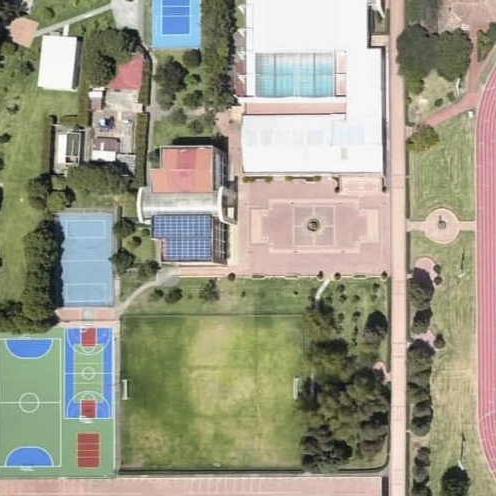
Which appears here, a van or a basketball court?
basketball court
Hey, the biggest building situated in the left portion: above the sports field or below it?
above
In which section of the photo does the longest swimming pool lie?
top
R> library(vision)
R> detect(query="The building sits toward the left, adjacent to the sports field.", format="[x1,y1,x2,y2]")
[133,146,240,265]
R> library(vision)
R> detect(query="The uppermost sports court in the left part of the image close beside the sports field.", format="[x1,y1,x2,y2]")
[58,212,115,307]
